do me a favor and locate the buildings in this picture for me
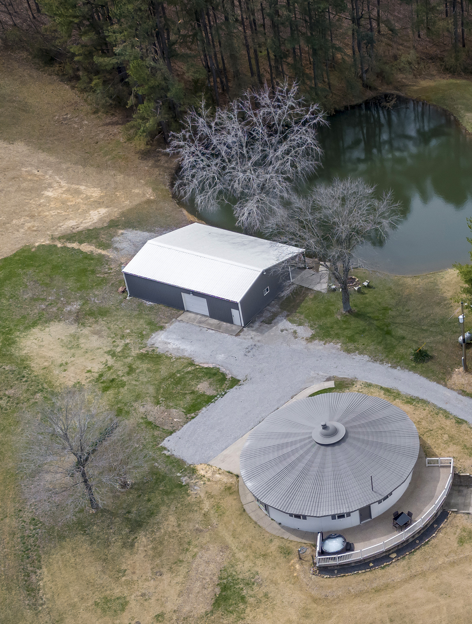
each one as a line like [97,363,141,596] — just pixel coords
[239,390,418,531]
[119,224,306,326]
